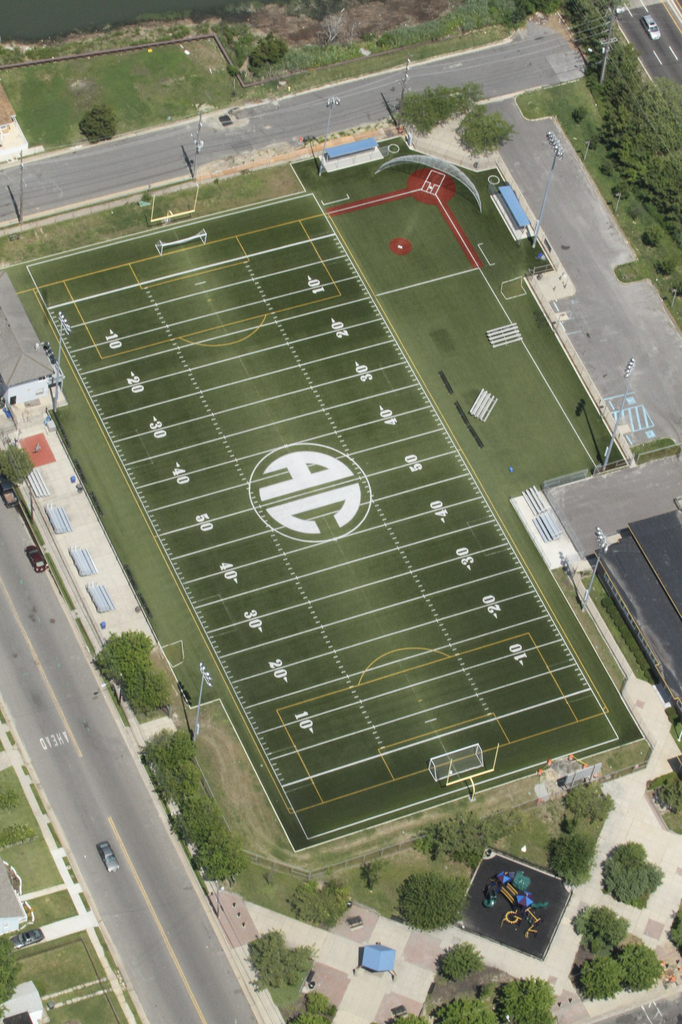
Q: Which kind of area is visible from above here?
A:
sports ground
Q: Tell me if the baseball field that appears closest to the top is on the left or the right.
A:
right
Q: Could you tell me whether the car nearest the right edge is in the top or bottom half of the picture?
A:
top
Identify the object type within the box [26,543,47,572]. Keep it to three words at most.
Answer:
car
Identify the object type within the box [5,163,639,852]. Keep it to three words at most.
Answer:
sports field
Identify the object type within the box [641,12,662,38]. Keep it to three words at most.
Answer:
car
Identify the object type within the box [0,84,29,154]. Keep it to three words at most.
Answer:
house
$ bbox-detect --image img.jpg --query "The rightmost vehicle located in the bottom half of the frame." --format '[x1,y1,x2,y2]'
[96,838,120,872]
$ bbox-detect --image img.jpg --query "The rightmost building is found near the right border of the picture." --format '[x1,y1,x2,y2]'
[593,509,682,720]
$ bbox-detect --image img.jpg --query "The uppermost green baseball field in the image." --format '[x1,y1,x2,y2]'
[290,133,629,496]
